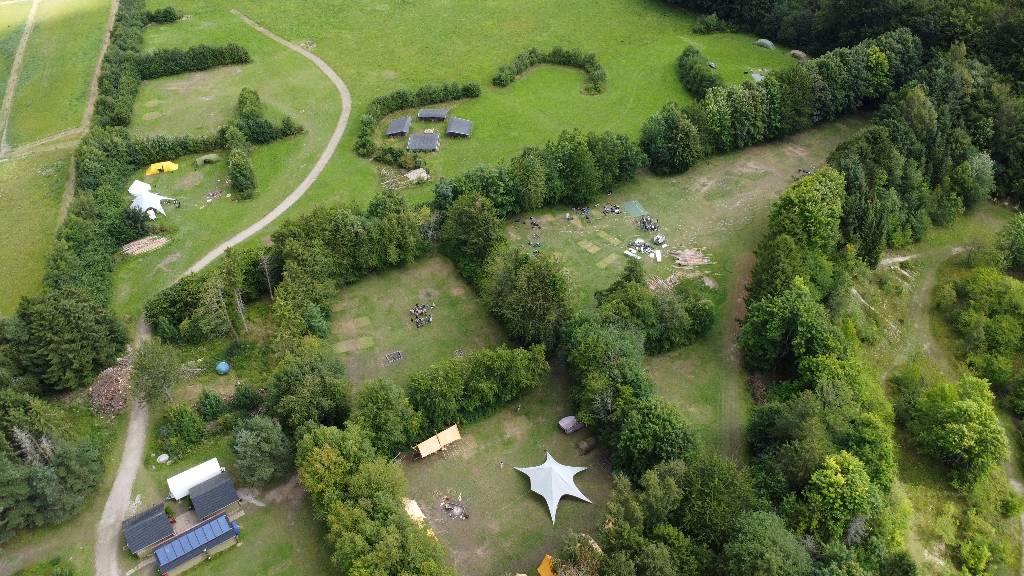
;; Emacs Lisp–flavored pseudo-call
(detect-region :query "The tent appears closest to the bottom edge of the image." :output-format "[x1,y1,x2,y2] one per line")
[510,448,601,523]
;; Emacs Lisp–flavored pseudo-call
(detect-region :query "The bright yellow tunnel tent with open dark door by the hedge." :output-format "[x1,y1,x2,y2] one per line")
[146,158,178,179]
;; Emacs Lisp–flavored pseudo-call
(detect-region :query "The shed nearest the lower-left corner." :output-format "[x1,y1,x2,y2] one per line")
[124,502,174,560]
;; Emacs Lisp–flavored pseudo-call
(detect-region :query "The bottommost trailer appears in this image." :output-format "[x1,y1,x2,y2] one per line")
[161,458,223,502]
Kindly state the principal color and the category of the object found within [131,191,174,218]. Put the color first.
white tent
